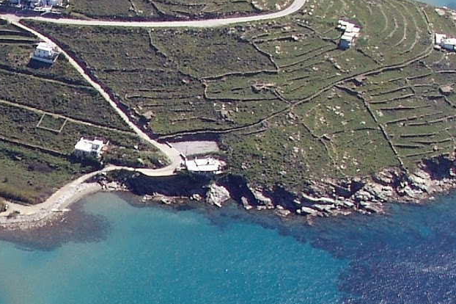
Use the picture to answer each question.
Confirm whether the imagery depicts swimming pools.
No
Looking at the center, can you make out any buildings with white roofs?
Yes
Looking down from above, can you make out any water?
Yes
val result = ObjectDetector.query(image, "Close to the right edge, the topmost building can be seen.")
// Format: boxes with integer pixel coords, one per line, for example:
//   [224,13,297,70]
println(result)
[432,33,456,53]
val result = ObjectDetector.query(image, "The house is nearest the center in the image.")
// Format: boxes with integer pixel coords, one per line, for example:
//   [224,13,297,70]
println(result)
[184,158,219,179]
